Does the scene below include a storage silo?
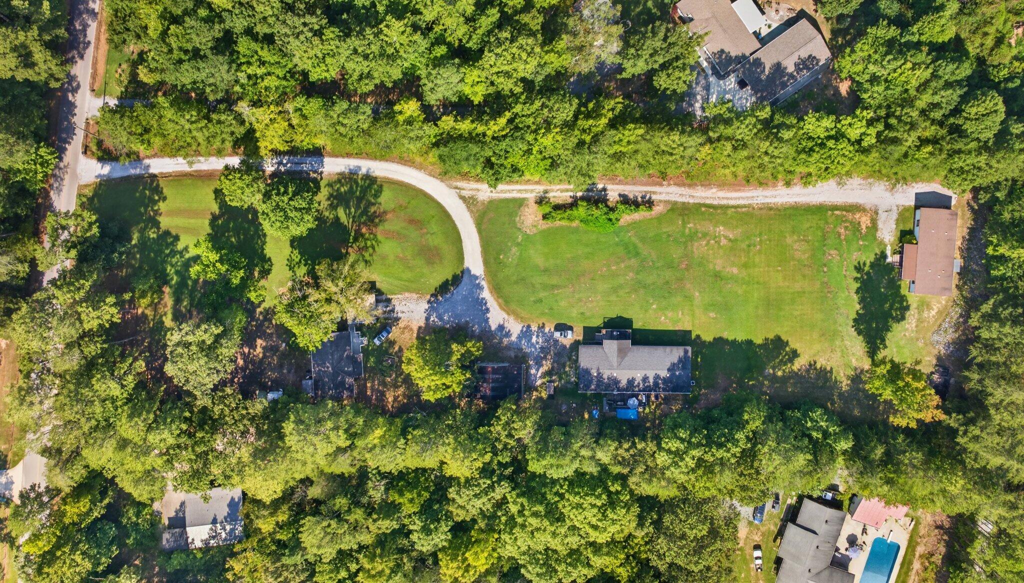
No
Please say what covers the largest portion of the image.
trees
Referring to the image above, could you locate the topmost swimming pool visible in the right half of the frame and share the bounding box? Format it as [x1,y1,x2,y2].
[616,408,639,420]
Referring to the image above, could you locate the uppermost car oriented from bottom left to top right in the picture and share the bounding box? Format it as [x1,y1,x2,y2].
[373,326,393,346]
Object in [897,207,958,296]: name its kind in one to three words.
house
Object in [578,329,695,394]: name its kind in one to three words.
house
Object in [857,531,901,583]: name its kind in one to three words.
swimming pool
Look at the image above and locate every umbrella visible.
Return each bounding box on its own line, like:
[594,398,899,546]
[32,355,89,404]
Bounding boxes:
[628,398,638,409]
[848,546,860,558]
